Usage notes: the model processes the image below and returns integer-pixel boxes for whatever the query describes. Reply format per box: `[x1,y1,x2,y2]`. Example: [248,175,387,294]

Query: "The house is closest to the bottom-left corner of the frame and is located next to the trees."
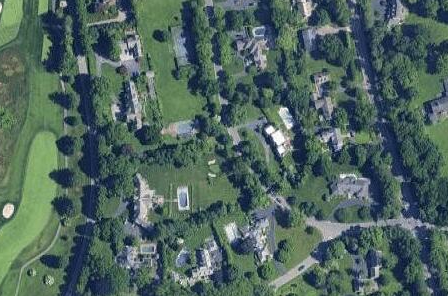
[113,248,153,268]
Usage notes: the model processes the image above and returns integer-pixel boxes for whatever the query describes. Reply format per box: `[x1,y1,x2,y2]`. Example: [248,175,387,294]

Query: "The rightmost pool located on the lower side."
[224,223,239,243]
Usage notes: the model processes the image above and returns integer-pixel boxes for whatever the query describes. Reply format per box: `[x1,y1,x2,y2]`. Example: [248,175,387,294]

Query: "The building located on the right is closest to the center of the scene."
[261,123,292,155]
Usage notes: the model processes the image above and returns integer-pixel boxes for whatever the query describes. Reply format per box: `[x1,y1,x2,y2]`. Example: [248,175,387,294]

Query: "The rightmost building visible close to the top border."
[387,0,409,27]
